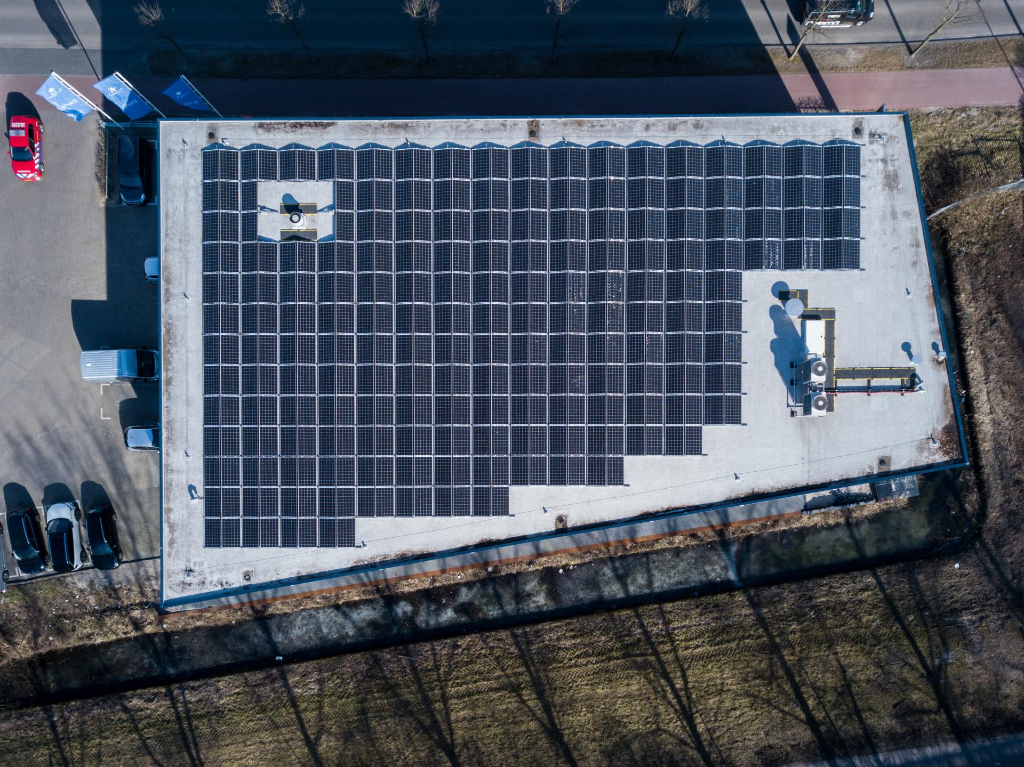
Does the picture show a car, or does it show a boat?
car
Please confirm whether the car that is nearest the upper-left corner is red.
Yes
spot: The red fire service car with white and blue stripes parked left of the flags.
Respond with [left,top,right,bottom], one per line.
[2,114,44,181]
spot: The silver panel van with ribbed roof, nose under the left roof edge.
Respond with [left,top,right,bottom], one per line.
[83,348,160,382]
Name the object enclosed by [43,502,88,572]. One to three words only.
car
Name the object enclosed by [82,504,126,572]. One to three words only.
car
